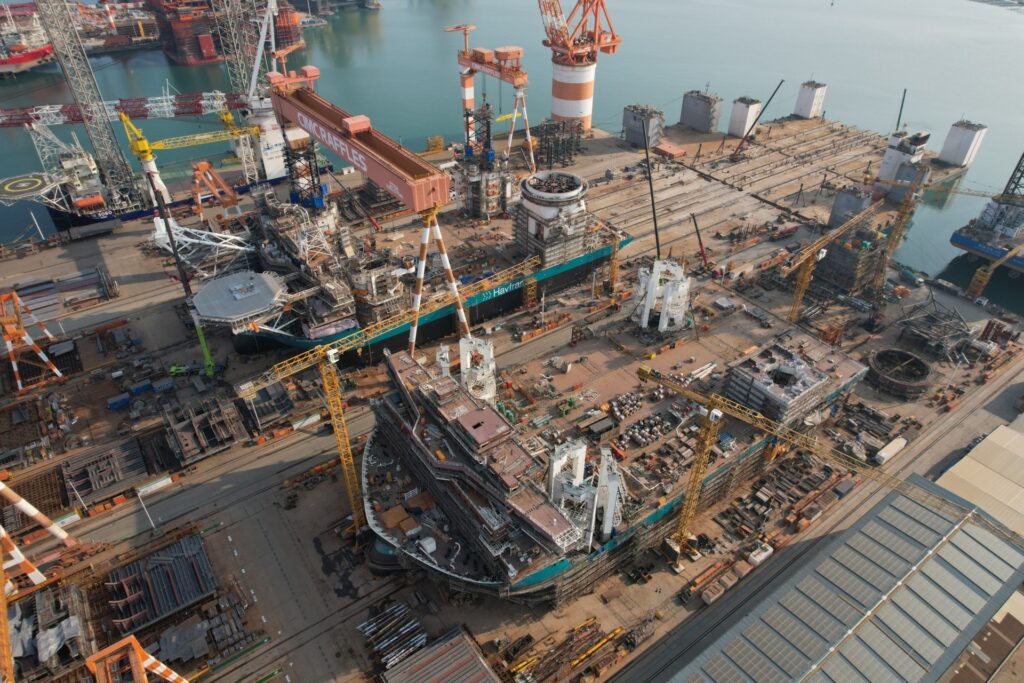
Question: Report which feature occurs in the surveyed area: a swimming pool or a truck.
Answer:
truck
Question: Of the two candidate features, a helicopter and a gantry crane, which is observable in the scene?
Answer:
gantry crane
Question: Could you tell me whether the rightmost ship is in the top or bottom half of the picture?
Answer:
top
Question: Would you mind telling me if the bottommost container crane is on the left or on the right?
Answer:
left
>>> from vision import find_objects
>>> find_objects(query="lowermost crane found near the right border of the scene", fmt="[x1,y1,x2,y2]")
[635,369,1024,572]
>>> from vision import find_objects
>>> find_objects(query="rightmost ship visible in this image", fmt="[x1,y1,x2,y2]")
[934,131,1024,288]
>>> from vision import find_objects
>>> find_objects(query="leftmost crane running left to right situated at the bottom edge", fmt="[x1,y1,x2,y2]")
[75,624,208,683]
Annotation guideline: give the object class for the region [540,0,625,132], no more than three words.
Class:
crane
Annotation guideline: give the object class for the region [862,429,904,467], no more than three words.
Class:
truck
